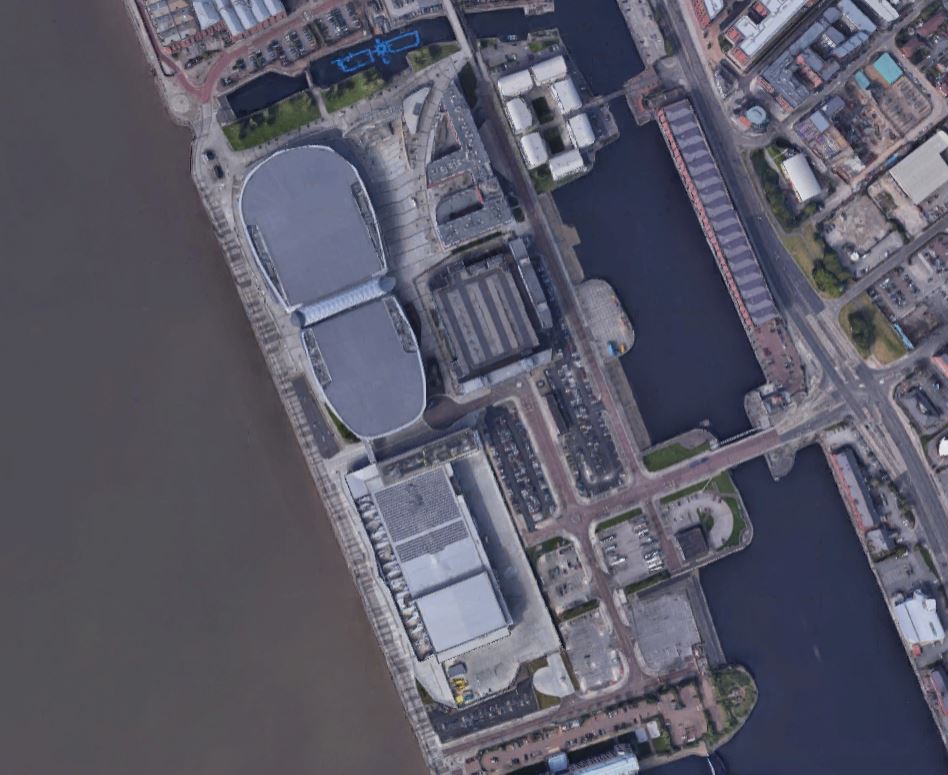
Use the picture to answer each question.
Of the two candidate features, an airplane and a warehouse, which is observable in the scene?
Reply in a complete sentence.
Of the two, only a warehouse appears.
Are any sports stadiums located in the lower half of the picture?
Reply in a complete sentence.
No, no sports stadium can be made out in the lower half of the picture.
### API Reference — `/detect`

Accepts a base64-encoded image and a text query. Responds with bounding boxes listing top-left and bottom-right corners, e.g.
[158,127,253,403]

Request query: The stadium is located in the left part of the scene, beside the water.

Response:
[241,144,386,312]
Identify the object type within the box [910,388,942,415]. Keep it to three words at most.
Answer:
shed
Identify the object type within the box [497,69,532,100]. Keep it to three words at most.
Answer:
building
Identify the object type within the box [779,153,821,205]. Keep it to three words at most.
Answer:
shed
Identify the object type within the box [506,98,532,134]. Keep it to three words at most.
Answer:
building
